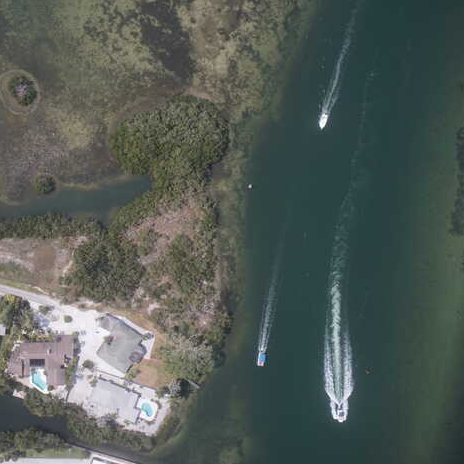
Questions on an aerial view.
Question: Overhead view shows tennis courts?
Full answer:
No, this view has no tennis court in it.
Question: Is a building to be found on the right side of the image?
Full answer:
No, there is no building on the right side of the image.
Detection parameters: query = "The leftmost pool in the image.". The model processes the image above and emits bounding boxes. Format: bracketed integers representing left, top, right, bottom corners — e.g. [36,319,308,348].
[32,370,47,391]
